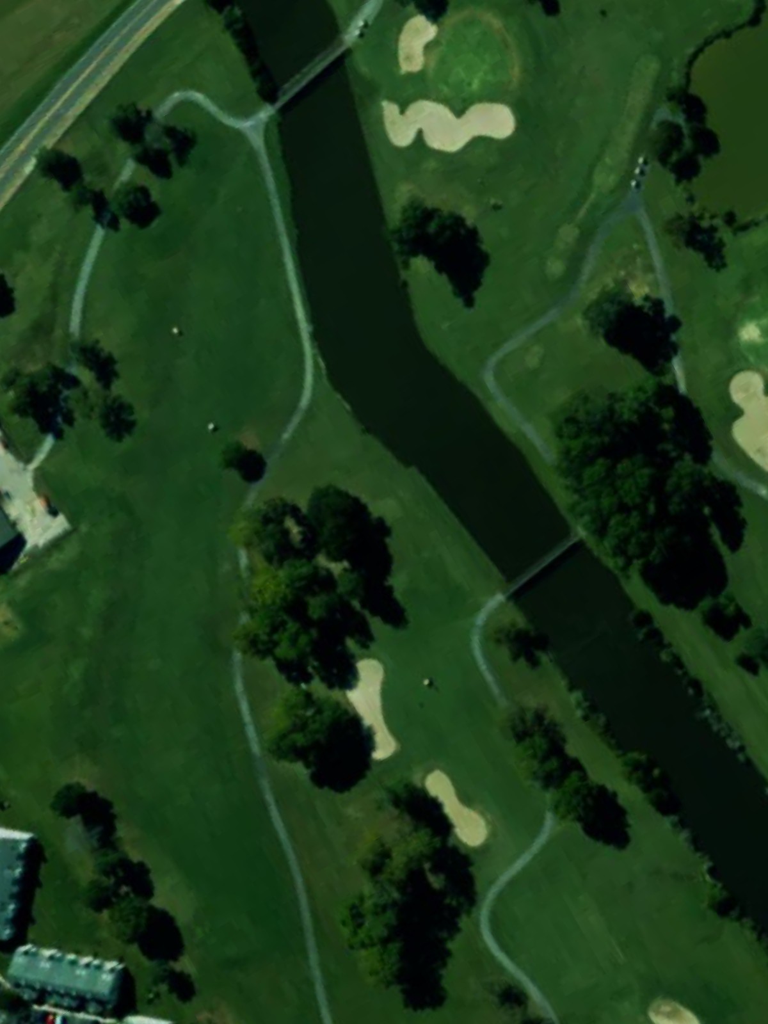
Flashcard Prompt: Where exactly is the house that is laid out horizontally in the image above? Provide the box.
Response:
[10,947,122,1012]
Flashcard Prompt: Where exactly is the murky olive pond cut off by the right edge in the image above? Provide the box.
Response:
[690,4,768,228]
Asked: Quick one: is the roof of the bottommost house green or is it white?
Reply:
green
